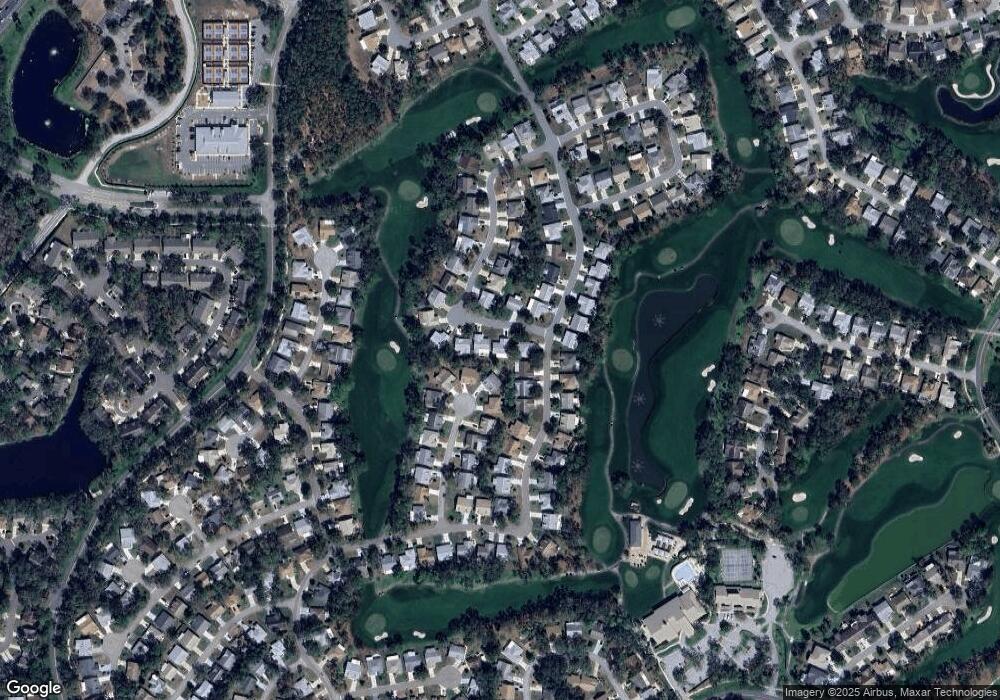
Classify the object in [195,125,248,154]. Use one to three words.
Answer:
building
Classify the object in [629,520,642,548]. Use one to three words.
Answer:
barn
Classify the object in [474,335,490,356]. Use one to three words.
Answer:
house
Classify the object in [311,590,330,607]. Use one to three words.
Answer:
house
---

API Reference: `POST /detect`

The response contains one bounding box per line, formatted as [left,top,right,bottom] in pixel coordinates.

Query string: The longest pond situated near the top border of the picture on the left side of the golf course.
[12,11,87,158]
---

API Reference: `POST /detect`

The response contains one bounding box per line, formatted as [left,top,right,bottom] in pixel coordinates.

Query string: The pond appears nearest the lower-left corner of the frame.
[0,359,107,499]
